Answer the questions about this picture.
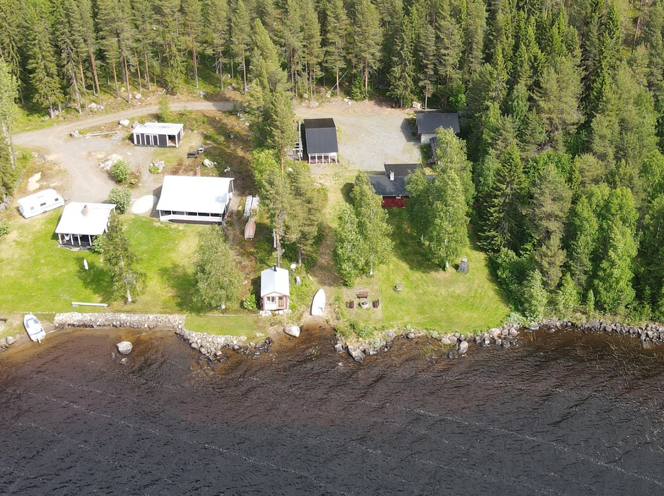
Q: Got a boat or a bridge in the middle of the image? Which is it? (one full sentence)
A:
The one visible in the middle of the image is a boat.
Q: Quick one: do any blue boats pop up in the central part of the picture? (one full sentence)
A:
No, I see no blue boat in the central part of the picture.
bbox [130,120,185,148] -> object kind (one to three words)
shed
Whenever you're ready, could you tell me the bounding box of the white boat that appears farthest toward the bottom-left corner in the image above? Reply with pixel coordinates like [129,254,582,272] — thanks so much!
[23,308,47,343]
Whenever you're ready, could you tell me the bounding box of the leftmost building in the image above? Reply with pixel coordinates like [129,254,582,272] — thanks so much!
[50,197,119,246]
